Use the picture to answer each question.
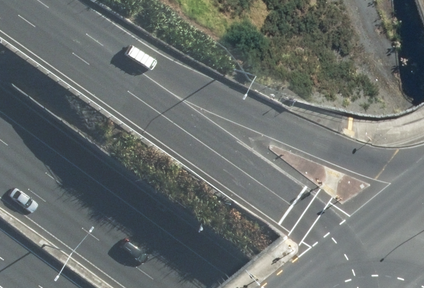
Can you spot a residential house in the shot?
No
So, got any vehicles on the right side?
No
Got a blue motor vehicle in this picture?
No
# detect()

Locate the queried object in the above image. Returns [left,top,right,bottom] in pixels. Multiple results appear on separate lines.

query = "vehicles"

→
[124,44,157,70]
[120,237,149,262]
[8,187,38,212]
